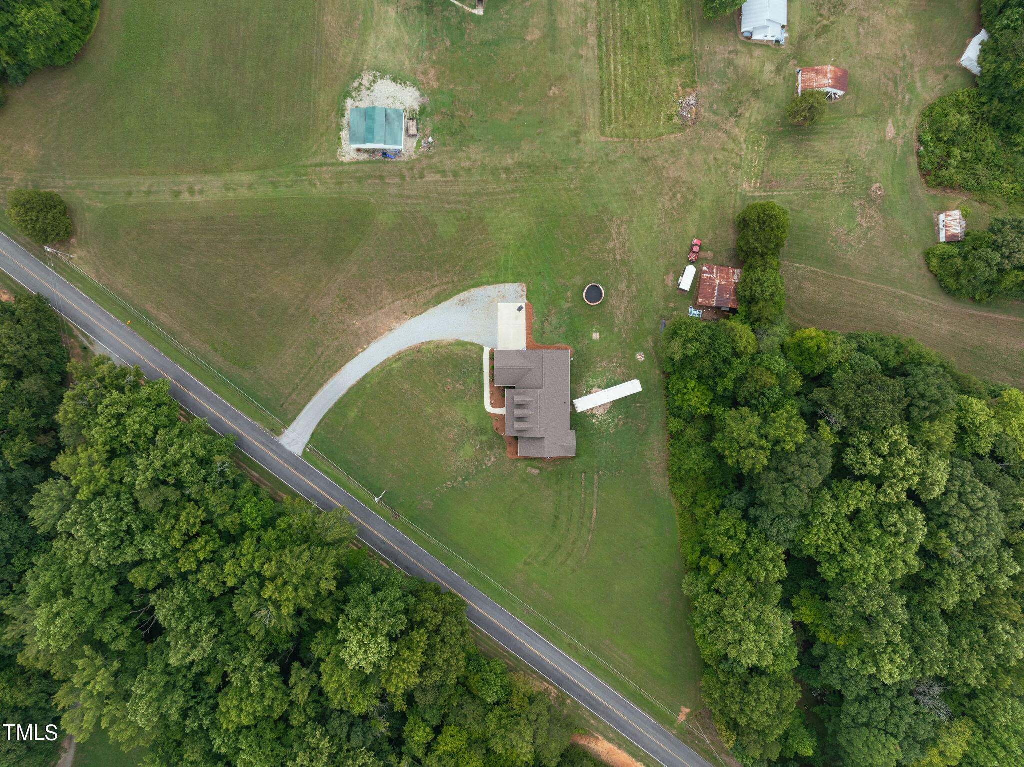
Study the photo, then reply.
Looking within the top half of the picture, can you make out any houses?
Yes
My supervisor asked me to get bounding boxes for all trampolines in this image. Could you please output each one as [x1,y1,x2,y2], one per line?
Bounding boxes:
[583,284,604,304]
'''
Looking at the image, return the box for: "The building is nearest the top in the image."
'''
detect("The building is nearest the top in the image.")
[740,0,788,45]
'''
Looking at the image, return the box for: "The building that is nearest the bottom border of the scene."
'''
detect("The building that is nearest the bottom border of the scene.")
[494,349,576,458]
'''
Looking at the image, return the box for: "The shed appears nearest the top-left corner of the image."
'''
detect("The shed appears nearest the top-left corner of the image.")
[350,105,406,150]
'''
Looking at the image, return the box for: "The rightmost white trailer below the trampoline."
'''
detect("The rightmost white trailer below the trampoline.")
[571,380,642,413]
